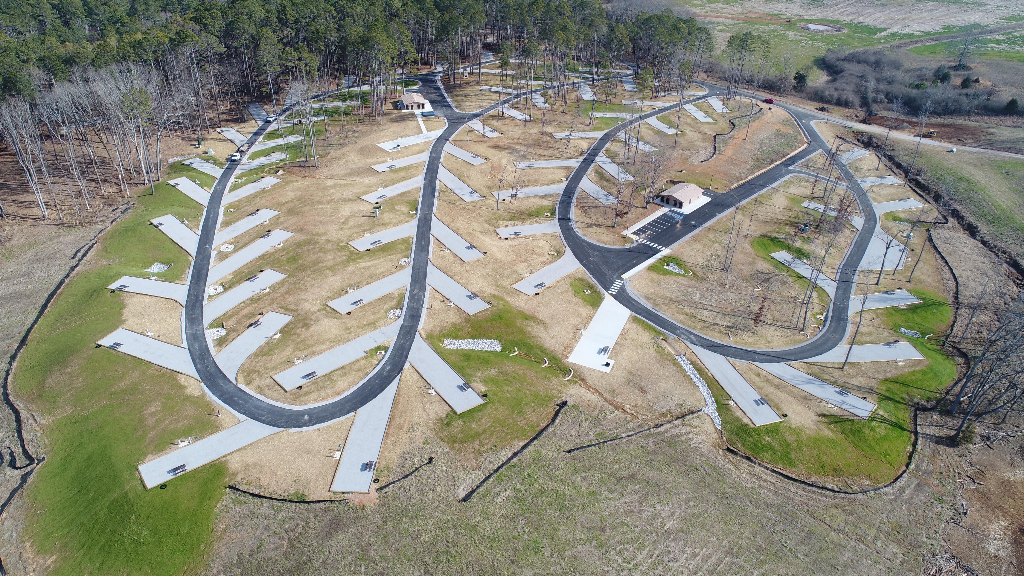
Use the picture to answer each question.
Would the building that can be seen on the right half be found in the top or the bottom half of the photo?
top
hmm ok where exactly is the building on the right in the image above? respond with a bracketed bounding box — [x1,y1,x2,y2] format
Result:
[658,179,705,208]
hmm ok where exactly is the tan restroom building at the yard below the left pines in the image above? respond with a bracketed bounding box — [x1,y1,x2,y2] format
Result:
[403,90,427,109]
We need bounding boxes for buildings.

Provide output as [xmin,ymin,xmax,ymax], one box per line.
[658,179,705,208]
[403,90,427,109]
